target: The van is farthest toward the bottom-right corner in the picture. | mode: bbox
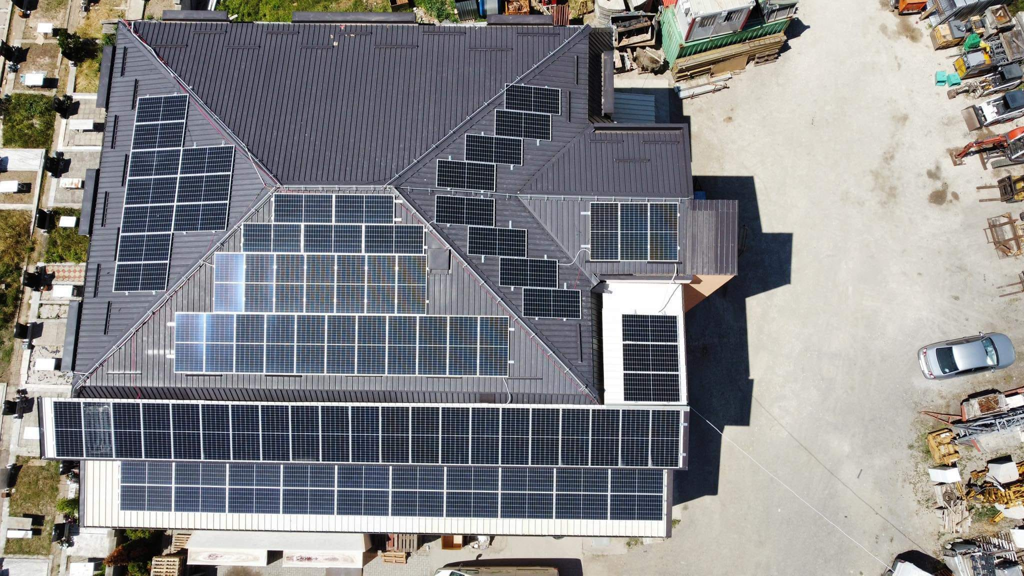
[864,547,928,576]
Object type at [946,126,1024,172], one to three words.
work vehicle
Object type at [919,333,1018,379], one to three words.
car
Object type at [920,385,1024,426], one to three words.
trailer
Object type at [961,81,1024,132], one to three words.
work vehicle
